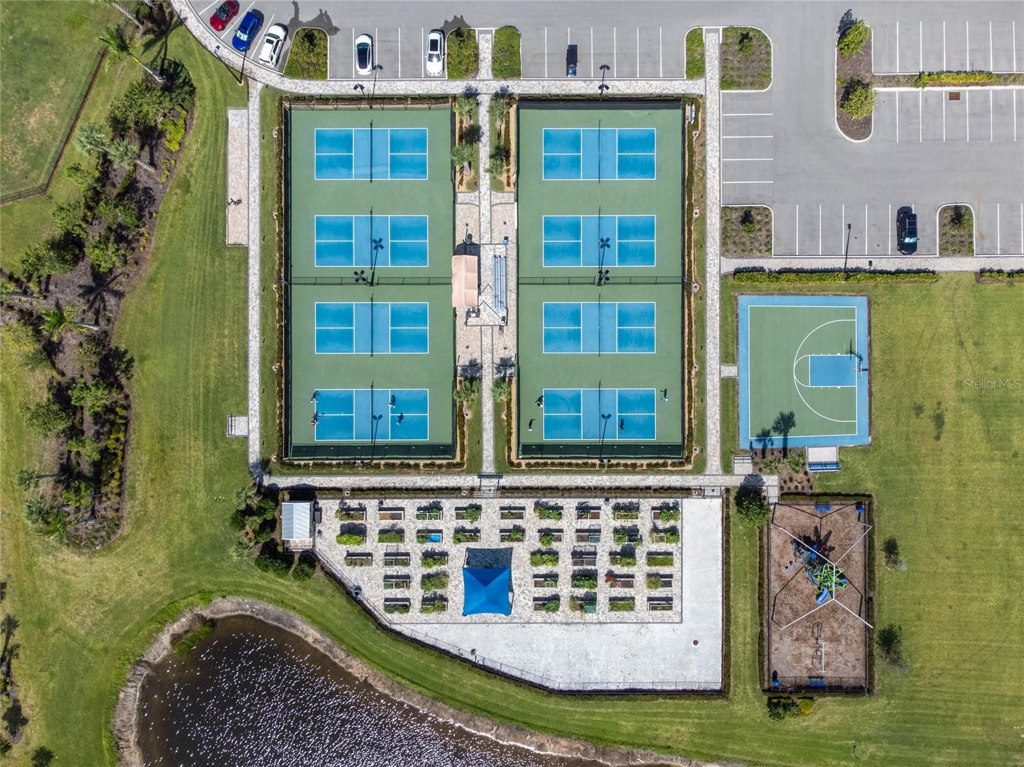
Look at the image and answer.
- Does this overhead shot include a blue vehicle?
Yes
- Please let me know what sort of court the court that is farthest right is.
basketball court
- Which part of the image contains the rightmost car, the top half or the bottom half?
top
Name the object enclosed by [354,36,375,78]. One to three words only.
car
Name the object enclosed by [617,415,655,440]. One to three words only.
sports court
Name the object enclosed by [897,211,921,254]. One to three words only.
car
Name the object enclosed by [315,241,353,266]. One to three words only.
sports court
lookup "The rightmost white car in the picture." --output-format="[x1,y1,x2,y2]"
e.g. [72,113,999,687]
[426,34,446,78]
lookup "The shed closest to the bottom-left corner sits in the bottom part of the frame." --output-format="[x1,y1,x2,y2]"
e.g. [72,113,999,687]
[282,503,313,540]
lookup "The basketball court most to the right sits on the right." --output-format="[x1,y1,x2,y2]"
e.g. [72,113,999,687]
[739,295,871,449]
